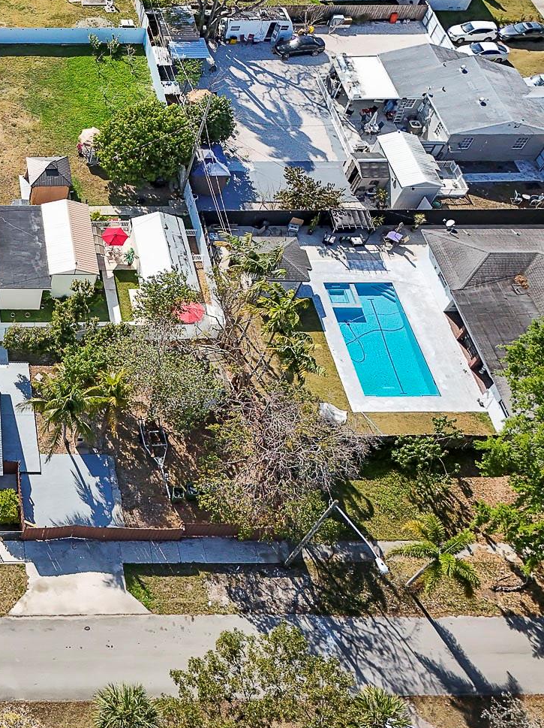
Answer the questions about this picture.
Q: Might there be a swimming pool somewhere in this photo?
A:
Yes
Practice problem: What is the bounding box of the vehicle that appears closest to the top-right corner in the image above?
[498,19,544,43]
